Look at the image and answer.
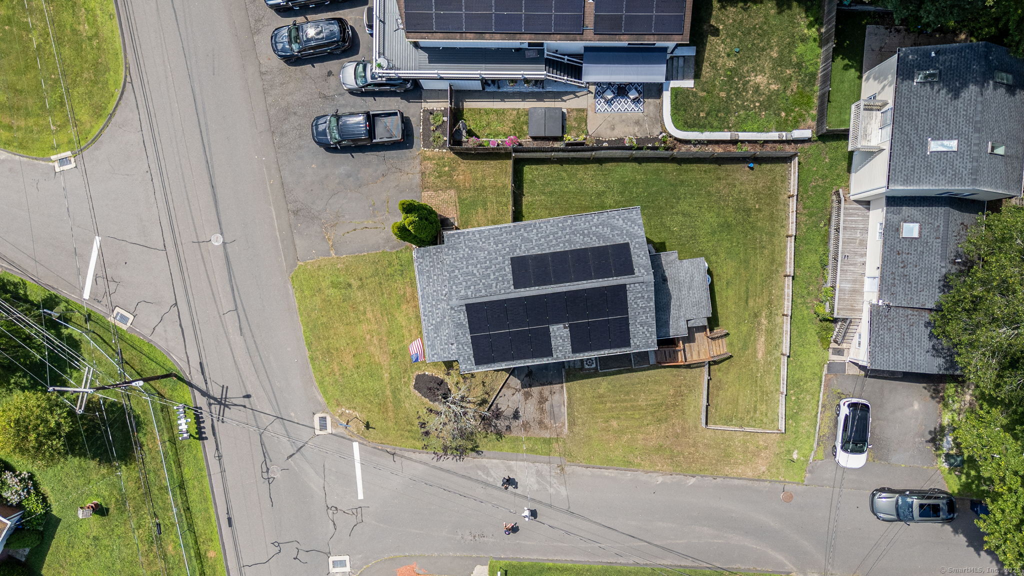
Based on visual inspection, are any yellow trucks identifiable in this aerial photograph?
No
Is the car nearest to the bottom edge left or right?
right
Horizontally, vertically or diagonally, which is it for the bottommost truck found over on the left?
horizontally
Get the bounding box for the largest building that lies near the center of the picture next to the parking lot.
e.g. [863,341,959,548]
[412,204,714,375]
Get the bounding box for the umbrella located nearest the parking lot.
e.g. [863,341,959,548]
[452,121,468,140]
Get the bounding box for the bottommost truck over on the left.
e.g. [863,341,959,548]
[311,105,406,149]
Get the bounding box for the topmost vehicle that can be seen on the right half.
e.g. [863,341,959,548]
[831,396,874,469]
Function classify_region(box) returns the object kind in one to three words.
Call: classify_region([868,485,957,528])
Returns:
car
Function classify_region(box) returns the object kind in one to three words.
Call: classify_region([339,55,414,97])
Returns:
car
